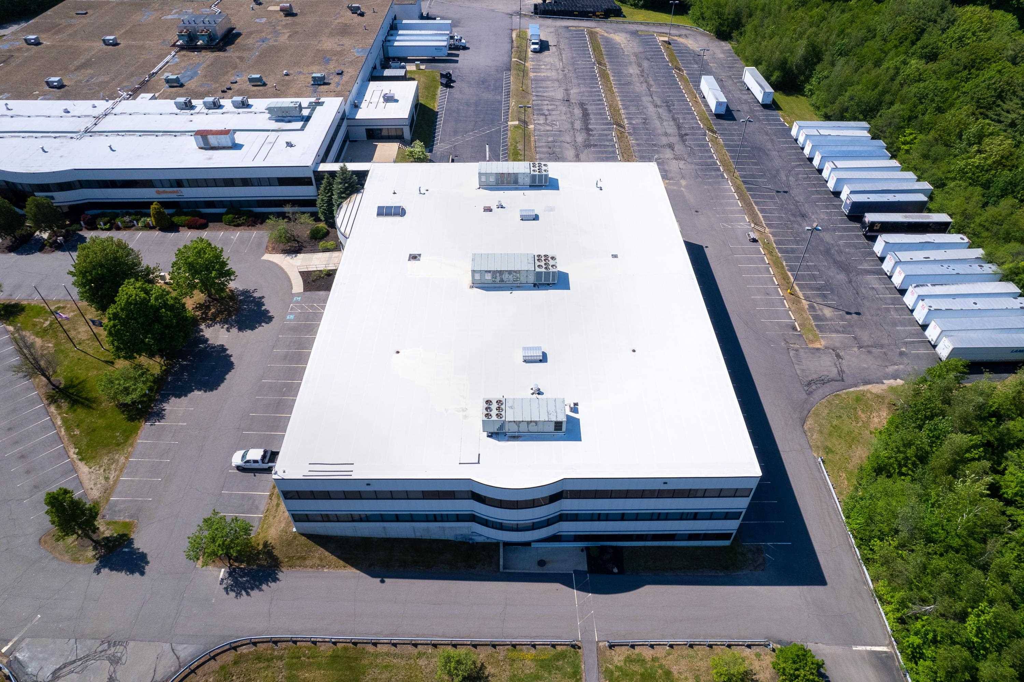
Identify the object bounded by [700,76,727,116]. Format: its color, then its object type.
white trailer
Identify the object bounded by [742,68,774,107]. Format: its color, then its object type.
white trailer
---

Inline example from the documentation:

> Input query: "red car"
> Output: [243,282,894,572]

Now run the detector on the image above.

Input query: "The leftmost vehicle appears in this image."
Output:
[230,449,280,473]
